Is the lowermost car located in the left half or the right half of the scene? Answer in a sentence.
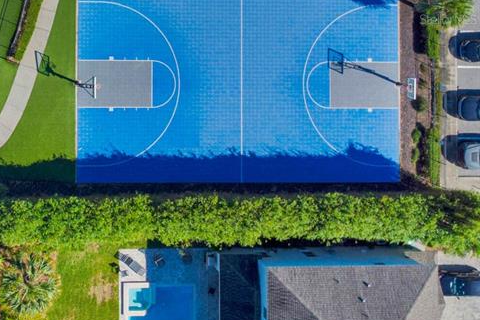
It is on the right.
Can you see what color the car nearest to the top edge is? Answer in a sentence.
In this view, the car nearest to the top edge is black.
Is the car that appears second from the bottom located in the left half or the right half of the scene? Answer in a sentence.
The car that appears second from the bottom is on the right side of the image.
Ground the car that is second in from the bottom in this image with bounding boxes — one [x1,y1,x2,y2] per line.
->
[460,143,480,168]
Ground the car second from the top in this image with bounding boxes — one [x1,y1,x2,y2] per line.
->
[459,97,480,122]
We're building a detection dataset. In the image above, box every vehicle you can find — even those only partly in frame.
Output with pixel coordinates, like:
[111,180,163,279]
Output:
[459,97,480,122]
[460,143,480,168]
[460,38,480,62]
[441,267,480,298]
